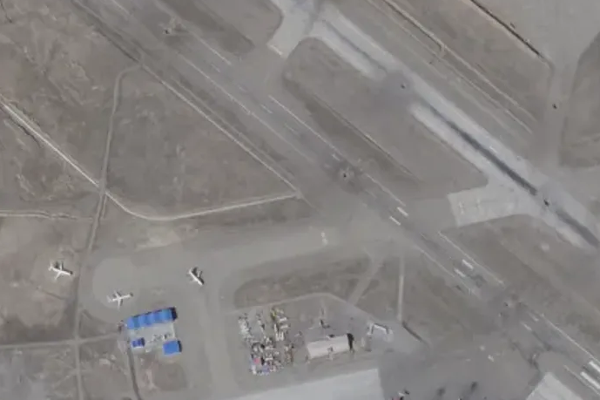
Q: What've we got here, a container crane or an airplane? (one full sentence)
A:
Of the two, only an airplane appears.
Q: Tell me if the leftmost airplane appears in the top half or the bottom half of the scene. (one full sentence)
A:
Seen from above, the leftmost airplane lies in the bottom half of the view.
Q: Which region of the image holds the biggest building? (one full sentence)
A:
The biggest building is located in the bottom region of the scene.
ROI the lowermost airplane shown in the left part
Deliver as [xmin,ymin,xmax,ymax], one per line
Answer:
[106,289,133,311]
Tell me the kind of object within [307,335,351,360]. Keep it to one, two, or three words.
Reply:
building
